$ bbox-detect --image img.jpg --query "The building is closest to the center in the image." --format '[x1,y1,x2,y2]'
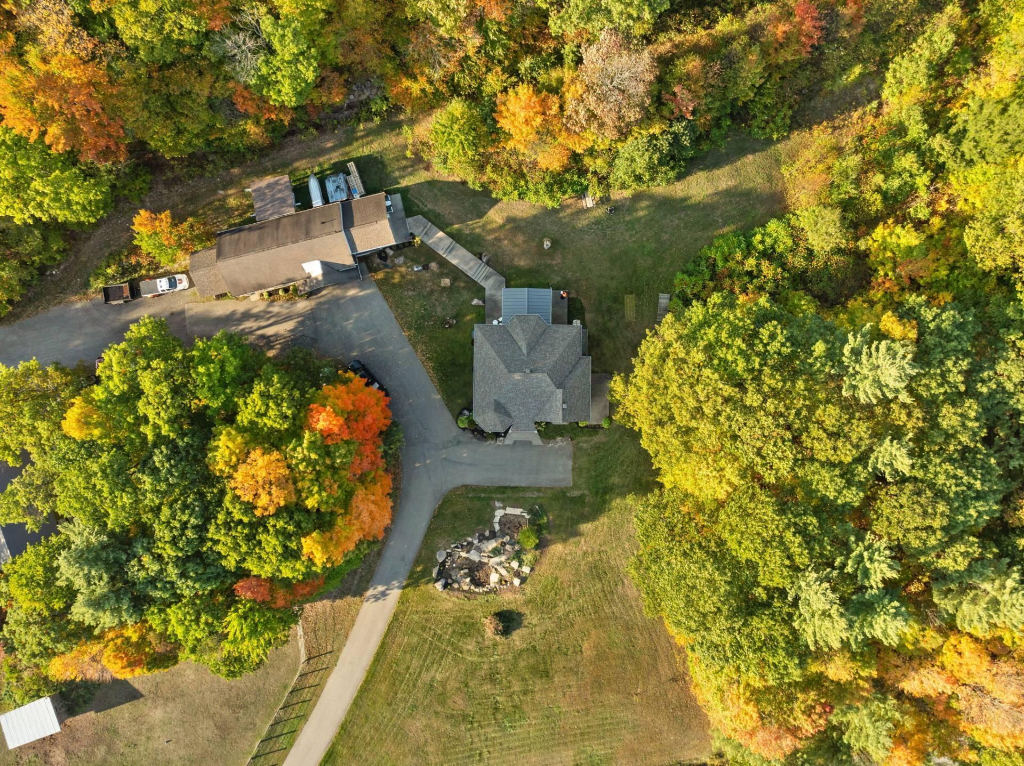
[470,314,592,433]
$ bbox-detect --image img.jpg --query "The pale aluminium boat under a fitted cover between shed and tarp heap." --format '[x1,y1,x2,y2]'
[307,173,326,208]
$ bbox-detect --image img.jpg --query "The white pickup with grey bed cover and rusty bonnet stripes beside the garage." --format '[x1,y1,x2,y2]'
[140,274,191,298]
